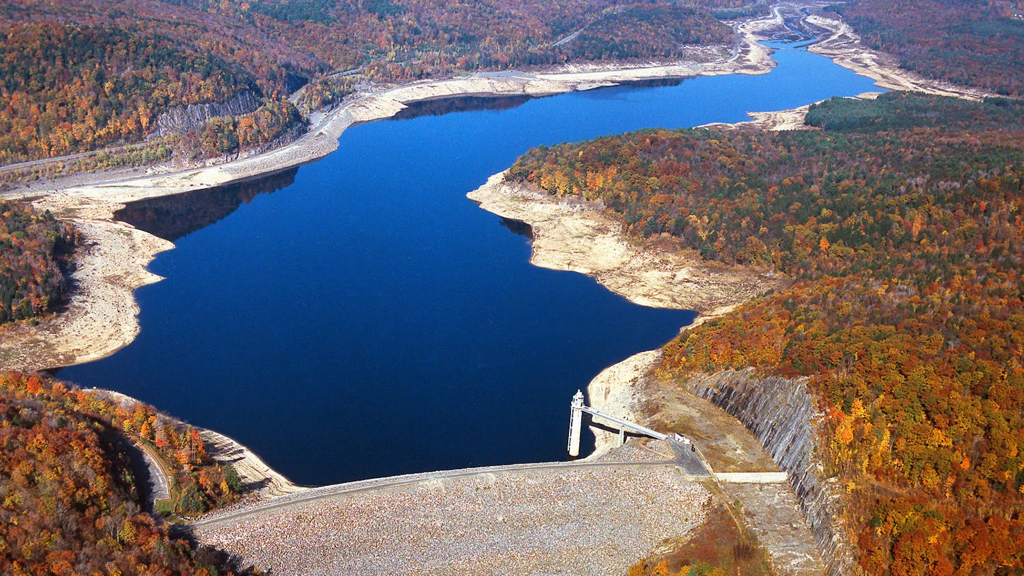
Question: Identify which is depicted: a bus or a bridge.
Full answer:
Looking from above, you can make out a bridge.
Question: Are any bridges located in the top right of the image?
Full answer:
No, no bridge is visible in the top right of the image.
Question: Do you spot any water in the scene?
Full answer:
Yes, some water is visible.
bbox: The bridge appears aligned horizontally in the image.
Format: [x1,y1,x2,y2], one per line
[581,412,671,454]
